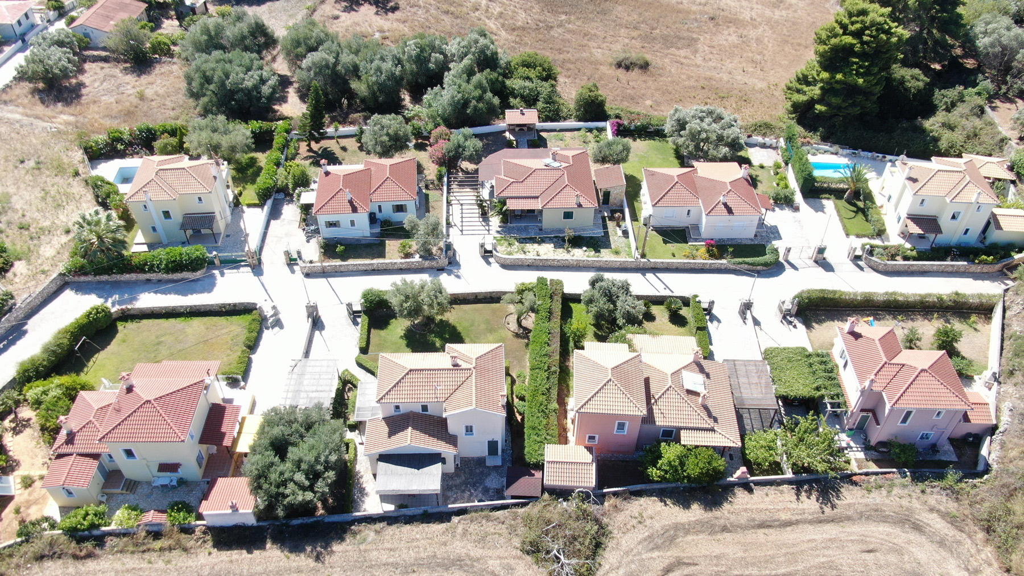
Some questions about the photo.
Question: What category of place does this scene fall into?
residential area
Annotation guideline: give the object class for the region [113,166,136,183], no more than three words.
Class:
swimming pool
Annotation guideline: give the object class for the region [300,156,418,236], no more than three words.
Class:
house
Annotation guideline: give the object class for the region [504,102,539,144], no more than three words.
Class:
building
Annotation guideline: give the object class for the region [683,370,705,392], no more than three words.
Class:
solar panel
